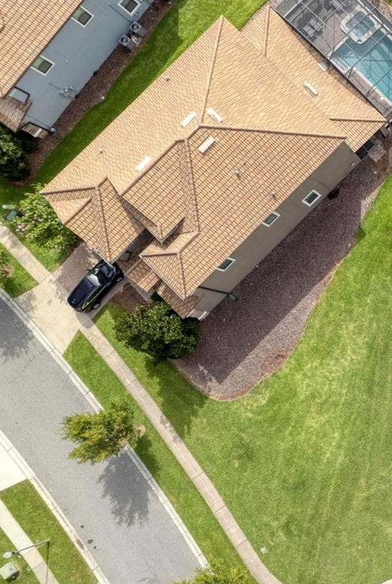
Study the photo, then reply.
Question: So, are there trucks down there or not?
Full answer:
No, no truck can be seen from above.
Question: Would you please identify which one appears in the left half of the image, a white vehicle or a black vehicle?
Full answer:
Looking in the left half of the image, you will find a black vehicle.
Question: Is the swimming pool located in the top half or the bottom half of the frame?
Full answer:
It is in the top half that the swimming pool appears.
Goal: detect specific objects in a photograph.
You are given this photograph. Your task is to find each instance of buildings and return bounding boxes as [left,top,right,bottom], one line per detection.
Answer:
[0,0,147,132]
[40,5,388,327]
